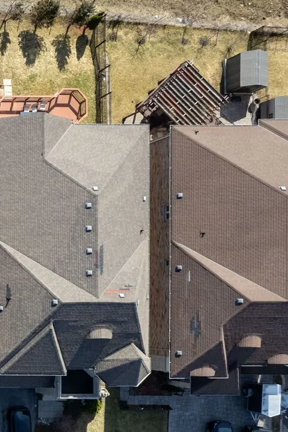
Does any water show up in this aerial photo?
No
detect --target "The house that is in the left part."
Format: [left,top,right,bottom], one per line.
[0,113,152,399]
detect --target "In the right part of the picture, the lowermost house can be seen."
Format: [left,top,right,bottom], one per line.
[151,117,288,395]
